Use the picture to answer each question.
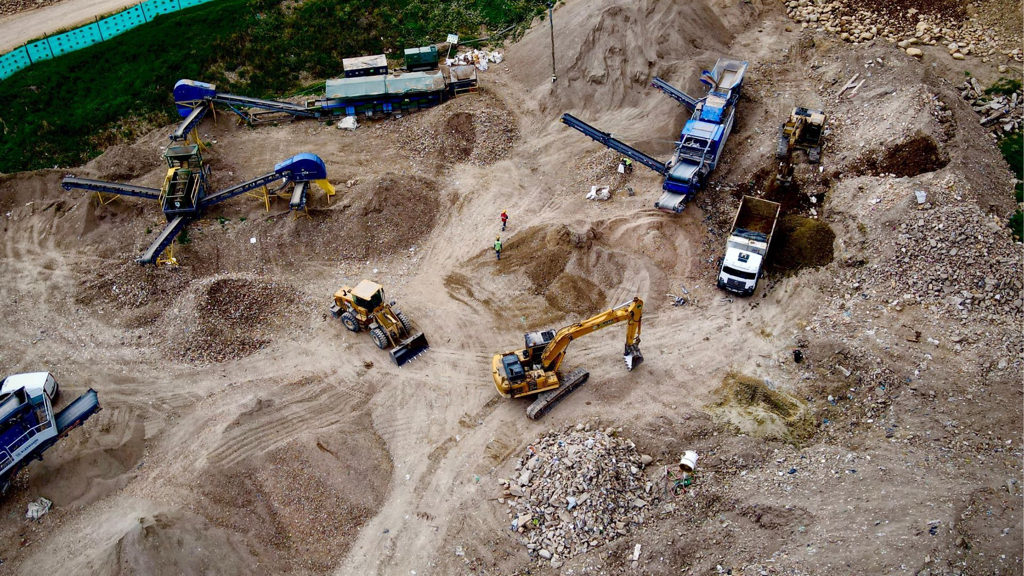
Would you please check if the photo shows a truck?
Yes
